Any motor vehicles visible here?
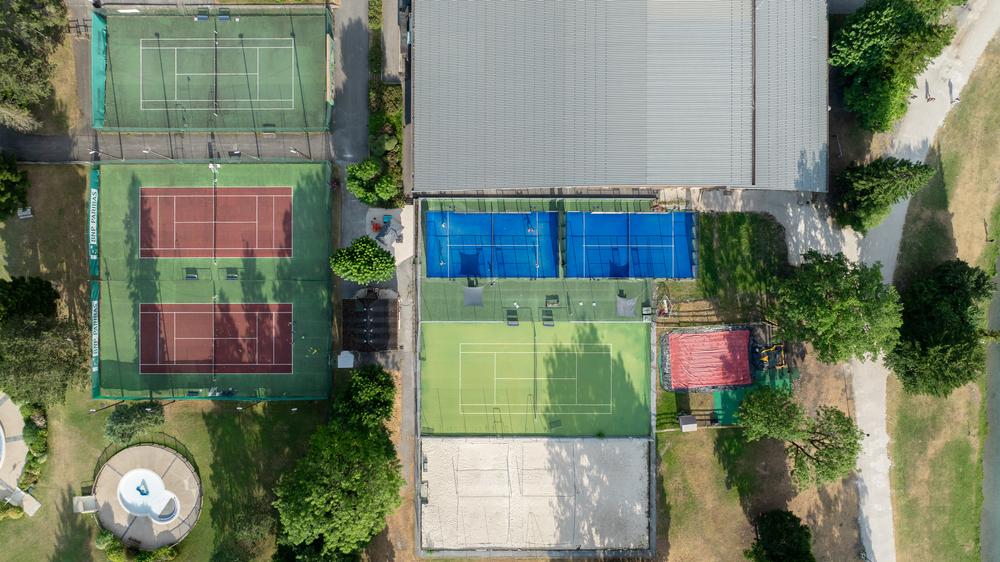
No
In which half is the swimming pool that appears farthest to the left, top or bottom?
bottom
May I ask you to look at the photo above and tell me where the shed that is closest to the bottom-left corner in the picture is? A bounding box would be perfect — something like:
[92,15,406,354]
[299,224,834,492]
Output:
[337,350,355,368]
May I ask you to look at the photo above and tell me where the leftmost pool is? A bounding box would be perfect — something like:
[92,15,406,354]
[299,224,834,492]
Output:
[0,396,26,493]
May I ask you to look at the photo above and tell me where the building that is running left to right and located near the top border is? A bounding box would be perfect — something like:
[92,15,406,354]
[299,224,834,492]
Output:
[409,0,832,197]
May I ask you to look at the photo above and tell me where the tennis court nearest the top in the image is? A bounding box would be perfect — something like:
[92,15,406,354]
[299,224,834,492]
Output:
[105,16,330,131]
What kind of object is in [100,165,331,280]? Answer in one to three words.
tennis court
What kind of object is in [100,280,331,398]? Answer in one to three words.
tennis court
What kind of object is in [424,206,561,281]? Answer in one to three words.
sports court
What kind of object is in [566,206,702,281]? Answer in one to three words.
sports court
